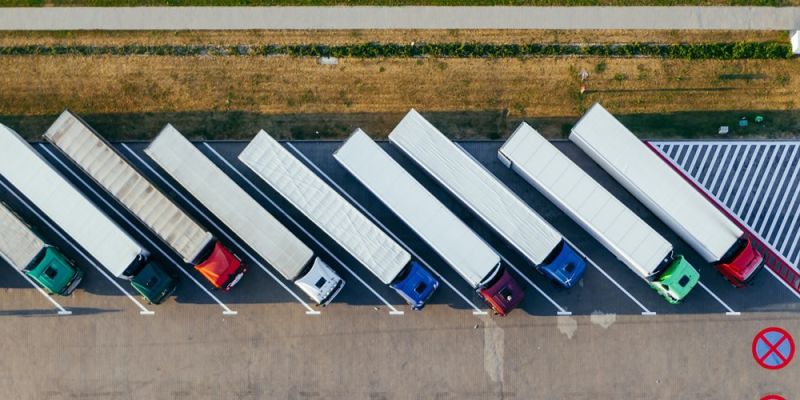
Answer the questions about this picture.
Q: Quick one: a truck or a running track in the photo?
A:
truck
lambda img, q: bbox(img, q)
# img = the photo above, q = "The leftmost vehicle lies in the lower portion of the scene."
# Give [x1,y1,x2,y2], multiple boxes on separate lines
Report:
[0,189,88,296]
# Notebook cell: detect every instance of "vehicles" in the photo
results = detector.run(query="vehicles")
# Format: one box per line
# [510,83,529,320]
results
[145,124,348,309]
[389,109,589,295]
[240,130,443,314]
[0,121,182,305]
[0,189,88,296]
[334,129,534,319]
[44,109,252,295]
[495,123,702,308]
[566,104,767,291]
